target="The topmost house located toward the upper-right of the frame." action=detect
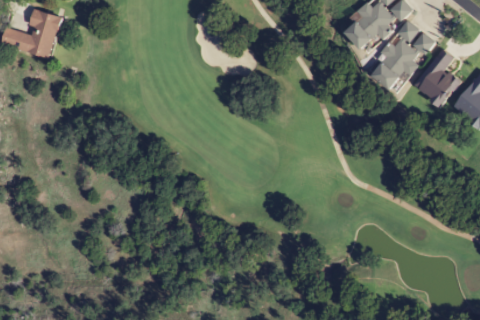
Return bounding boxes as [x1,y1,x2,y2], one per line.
[343,0,412,50]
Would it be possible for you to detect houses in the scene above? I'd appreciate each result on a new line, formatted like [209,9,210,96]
[2,8,62,56]
[370,21,436,92]
[416,50,462,100]
[454,77,480,126]
[343,0,412,50]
